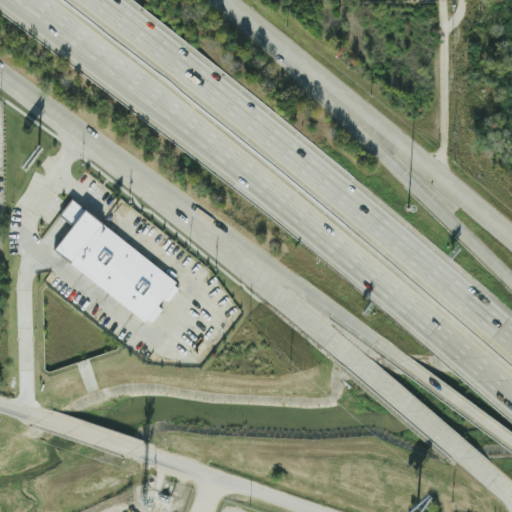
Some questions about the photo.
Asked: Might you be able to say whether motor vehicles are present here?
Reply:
Yes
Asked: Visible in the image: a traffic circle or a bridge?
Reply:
bridge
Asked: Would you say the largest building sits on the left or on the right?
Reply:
left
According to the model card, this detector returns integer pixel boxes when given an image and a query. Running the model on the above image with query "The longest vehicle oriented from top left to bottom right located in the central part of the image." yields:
[194,204,230,234]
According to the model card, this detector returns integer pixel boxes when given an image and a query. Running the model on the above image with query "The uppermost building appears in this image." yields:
[55,200,179,324]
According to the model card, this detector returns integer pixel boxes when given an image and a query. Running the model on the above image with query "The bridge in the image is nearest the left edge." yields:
[38,411,150,458]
